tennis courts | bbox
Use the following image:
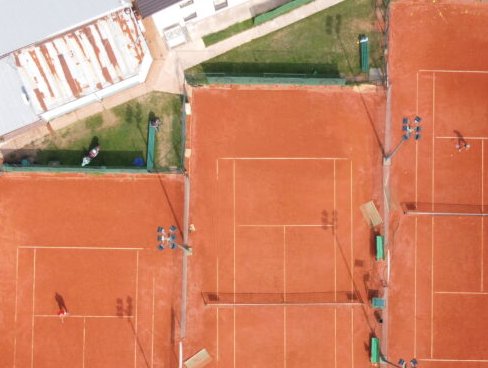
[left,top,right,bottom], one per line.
[0,173,186,368]
[388,0,488,368]
[185,84,388,368]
